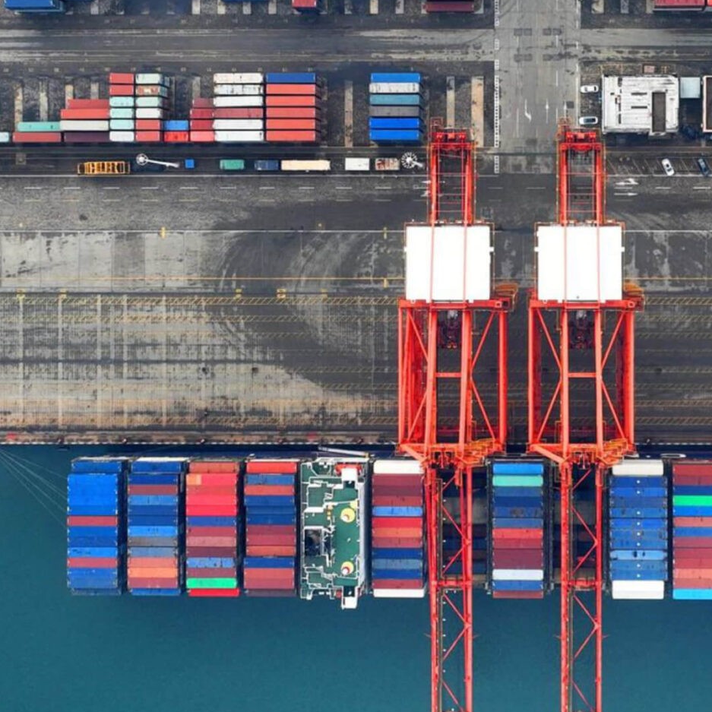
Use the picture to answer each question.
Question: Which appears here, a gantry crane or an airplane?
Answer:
gantry crane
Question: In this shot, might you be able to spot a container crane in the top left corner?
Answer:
No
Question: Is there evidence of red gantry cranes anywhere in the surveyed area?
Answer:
Yes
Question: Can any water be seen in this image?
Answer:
Yes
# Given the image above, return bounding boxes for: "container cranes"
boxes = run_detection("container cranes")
[515,115,651,712]
[393,115,528,712]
